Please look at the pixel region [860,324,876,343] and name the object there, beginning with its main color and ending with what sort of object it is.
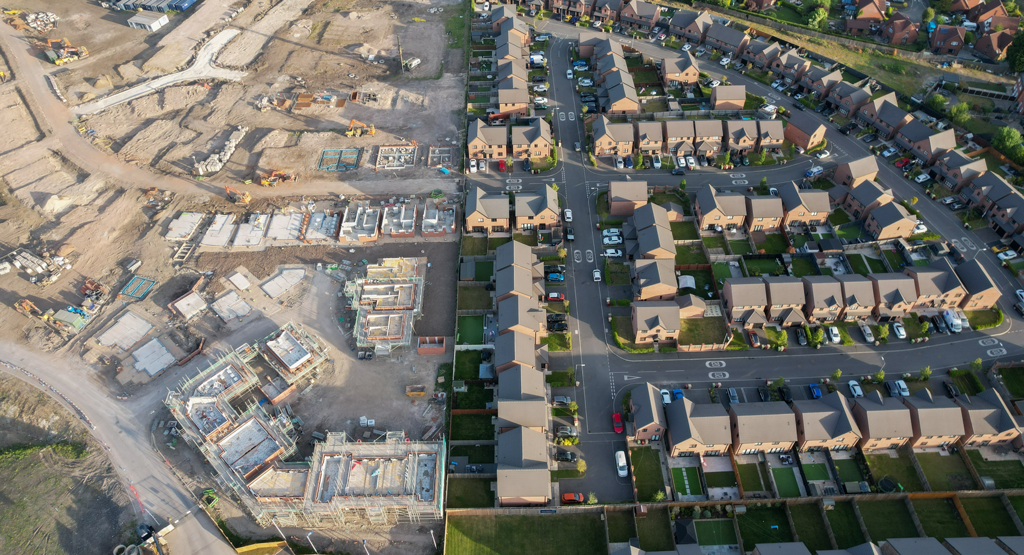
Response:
gray vehicle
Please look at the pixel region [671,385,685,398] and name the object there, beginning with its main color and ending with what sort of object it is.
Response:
blue vehicle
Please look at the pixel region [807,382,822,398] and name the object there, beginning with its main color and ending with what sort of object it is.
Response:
blue car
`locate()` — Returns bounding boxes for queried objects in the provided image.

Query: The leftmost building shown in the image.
[51,307,85,332]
